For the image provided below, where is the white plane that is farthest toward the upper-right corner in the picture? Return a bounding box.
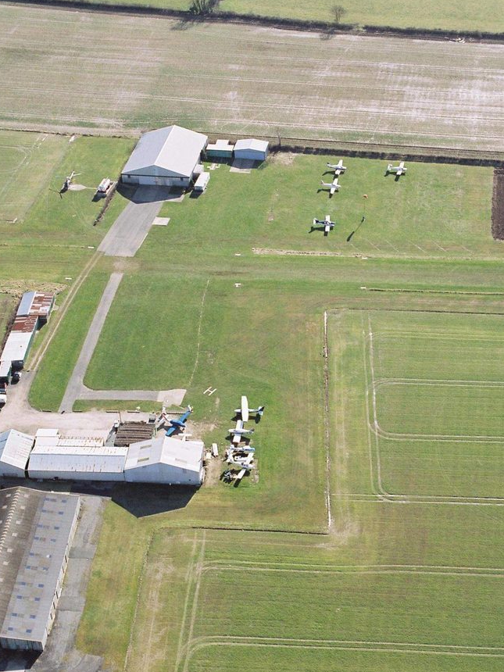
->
[387,160,406,174]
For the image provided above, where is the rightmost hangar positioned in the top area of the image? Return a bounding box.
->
[234,137,269,160]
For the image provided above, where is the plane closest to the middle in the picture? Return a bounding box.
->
[236,395,265,421]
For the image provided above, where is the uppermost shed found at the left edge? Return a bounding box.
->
[13,290,54,322]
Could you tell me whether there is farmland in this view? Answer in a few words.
Yes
